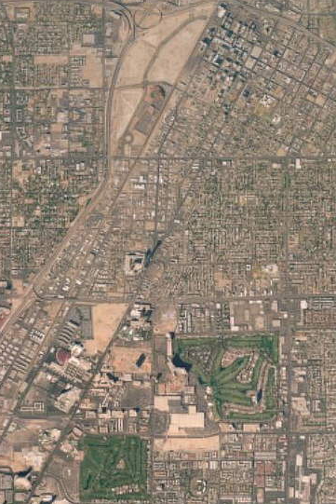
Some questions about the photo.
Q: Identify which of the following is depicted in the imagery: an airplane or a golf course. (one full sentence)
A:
There is a golf course in the scene.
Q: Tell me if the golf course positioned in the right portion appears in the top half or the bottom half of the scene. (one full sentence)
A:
The golf course positioned in the right portion is in the bottom half of the image.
